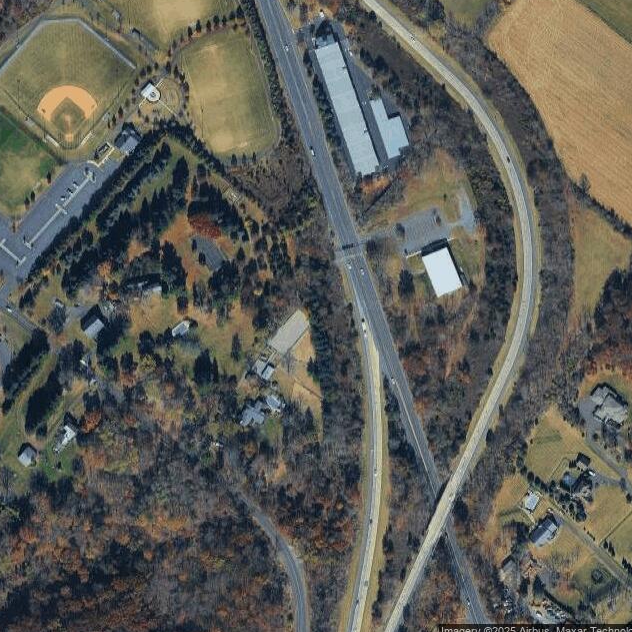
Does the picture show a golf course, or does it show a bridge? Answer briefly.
bridge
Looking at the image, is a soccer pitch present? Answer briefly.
Yes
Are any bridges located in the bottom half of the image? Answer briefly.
Yes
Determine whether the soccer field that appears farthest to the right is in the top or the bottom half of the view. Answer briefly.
top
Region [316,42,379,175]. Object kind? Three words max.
building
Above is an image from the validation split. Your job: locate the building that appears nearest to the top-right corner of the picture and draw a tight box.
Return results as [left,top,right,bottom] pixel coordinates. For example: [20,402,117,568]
[370,99,410,159]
